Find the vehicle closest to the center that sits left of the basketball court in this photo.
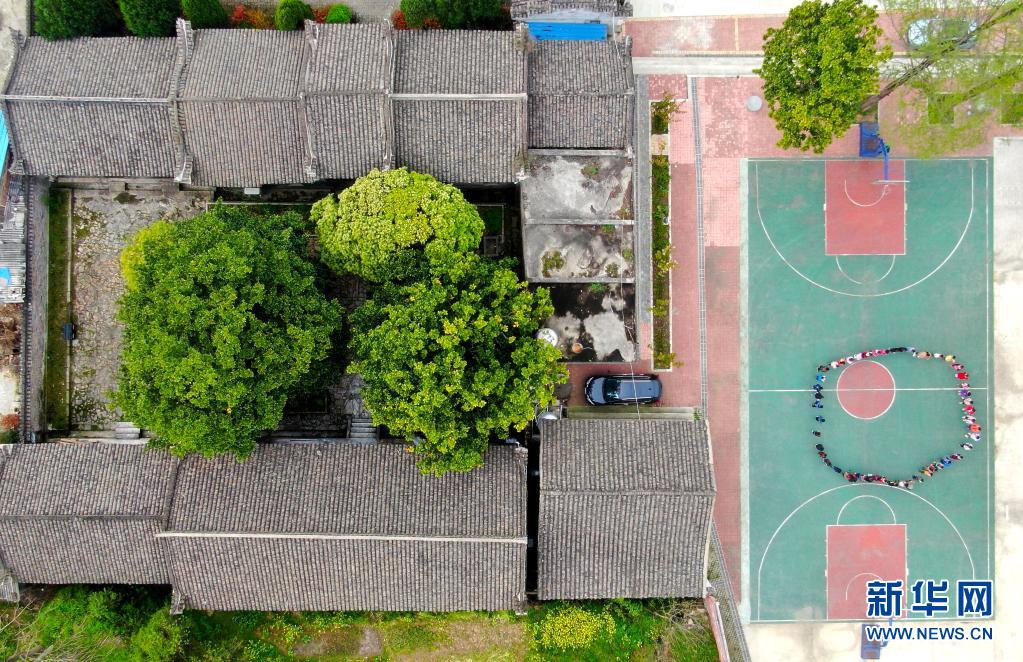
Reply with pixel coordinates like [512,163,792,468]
[585,372,661,408]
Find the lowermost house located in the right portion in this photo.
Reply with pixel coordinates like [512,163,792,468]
[537,417,719,601]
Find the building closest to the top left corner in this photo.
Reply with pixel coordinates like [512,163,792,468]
[0,27,182,188]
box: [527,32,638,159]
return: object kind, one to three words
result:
house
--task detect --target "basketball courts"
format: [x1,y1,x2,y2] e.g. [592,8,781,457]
[739,158,993,622]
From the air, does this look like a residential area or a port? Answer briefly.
residential area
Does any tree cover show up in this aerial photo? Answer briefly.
Yes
